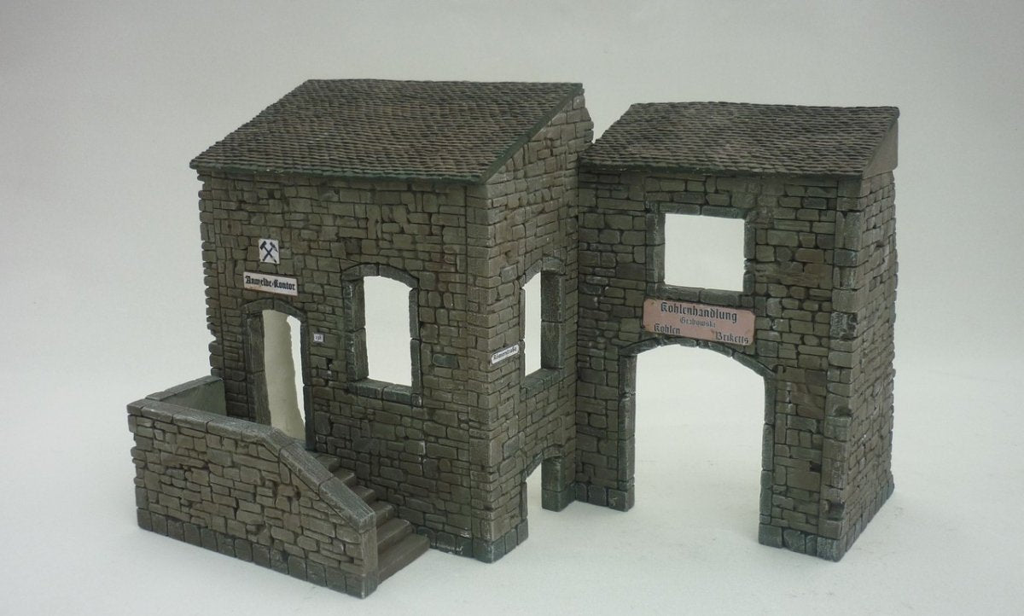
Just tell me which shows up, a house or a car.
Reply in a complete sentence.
Of the two, only a house appears.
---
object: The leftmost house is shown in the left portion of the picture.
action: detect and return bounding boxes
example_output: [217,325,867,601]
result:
[189,79,594,562]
